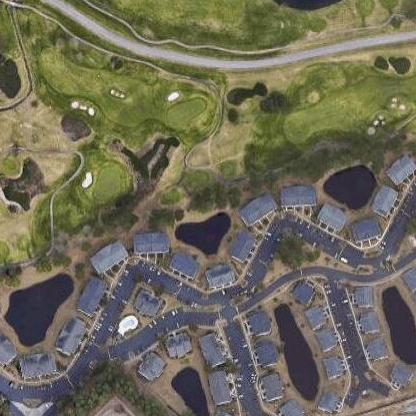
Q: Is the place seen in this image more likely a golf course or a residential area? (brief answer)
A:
golf course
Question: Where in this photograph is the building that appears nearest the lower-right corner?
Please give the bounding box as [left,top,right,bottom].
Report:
[387,361,414,387]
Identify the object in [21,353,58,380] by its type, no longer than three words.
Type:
building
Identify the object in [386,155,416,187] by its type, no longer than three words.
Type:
building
